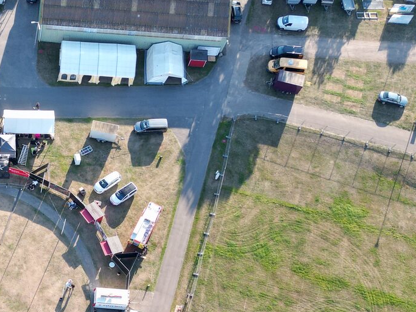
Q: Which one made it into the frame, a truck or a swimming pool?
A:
truck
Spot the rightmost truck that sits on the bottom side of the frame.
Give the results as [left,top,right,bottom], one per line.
[127,204,161,253]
